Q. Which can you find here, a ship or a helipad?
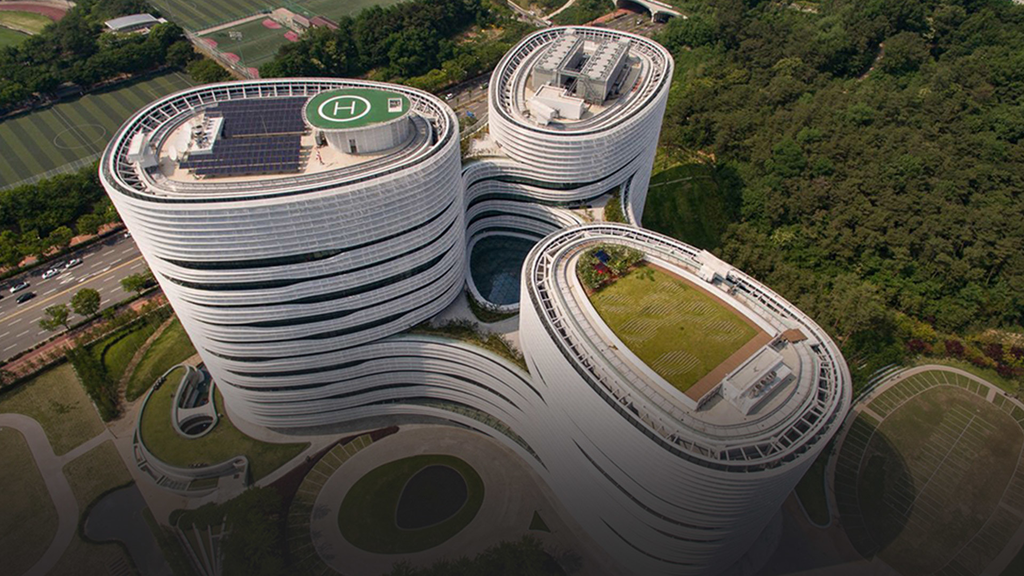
helipad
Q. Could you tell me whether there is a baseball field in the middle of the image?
No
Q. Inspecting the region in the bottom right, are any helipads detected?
No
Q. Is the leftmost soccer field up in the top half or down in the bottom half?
top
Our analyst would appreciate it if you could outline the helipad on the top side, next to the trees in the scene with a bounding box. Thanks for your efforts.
[297,84,419,161]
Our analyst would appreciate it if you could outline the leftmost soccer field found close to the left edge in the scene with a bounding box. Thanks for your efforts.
[0,63,205,188]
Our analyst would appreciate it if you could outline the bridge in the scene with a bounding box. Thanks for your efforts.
[643,0,708,26]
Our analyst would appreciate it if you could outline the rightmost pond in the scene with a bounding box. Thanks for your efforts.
[397,465,466,527]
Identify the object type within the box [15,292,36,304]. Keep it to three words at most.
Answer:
vehicle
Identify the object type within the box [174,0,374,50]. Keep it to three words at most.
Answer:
sports field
